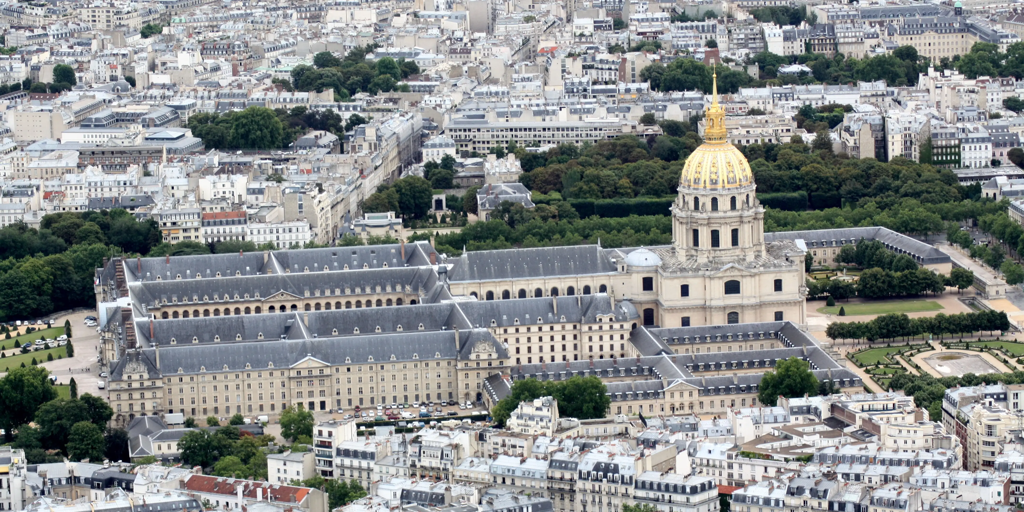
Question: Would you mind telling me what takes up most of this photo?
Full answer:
The bulk of the photo consists of buildings.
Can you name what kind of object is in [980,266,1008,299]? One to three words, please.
building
